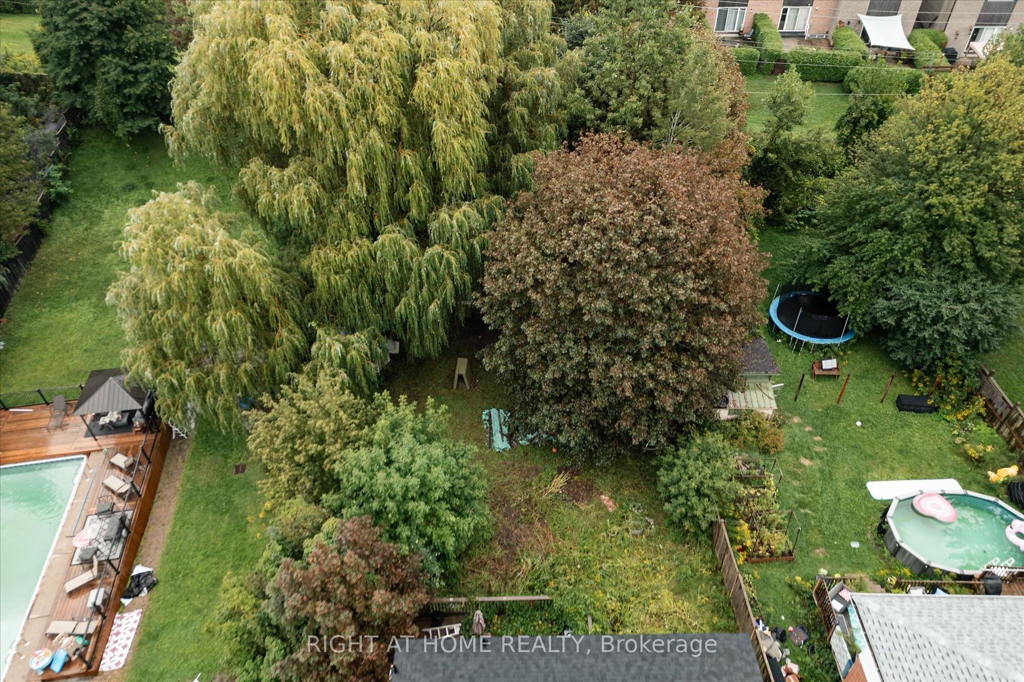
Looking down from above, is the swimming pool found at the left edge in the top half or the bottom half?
bottom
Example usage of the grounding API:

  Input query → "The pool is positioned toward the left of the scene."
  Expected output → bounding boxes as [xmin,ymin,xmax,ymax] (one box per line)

[0,453,89,682]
